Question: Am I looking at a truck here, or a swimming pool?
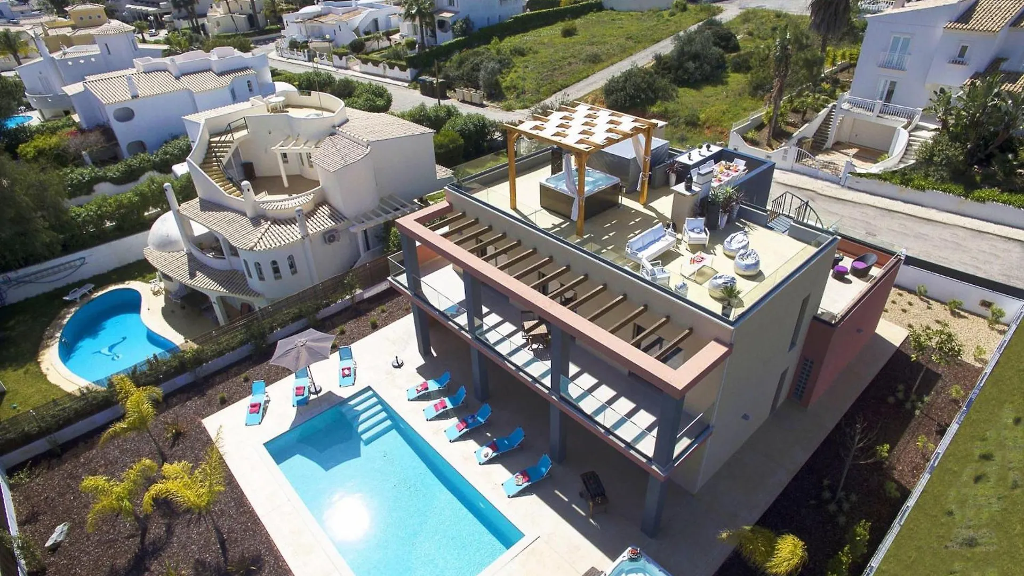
swimming pool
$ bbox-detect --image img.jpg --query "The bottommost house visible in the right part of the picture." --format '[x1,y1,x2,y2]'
[388,137,904,539]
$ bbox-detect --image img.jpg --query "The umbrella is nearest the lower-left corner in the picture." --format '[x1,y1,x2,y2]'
[271,328,335,396]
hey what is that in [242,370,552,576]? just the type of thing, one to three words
swimming pool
